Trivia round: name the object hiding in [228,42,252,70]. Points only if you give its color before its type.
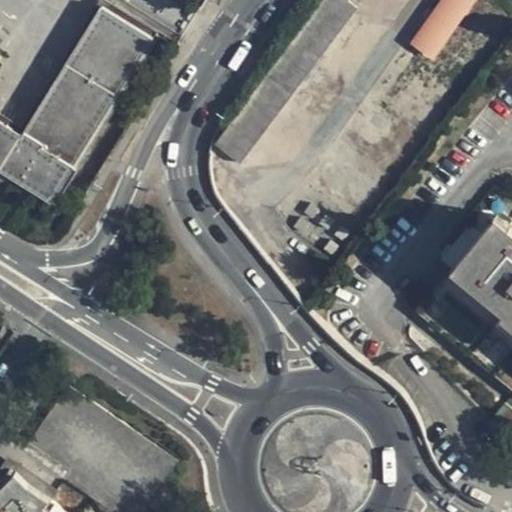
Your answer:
white vehicle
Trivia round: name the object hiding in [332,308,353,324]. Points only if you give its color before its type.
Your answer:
white car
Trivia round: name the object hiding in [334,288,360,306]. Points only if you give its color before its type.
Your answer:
white vehicle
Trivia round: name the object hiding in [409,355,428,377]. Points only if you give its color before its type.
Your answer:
white car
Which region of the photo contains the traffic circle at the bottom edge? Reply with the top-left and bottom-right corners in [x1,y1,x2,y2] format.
[258,408,376,512]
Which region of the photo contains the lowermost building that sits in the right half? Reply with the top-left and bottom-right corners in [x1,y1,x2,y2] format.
[474,320,512,376]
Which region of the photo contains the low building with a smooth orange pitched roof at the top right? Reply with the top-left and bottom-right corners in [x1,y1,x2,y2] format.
[410,0,476,60]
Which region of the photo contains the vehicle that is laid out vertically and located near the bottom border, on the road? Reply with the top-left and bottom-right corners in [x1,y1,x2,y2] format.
[382,446,398,487]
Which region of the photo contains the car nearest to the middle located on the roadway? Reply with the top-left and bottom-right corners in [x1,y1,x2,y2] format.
[246,268,266,288]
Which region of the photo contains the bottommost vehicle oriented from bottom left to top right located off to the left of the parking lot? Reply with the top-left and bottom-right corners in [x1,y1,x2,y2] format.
[253,416,271,434]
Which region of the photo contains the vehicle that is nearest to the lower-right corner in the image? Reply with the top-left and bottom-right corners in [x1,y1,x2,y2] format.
[461,482,490,504]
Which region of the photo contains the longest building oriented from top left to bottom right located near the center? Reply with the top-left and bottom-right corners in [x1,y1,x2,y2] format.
[294,215,324,240]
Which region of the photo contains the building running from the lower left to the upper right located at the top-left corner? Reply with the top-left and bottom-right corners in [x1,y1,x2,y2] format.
[21,4,156,168]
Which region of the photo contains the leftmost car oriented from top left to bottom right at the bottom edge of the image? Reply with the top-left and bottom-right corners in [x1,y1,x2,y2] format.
[414,472,435,492]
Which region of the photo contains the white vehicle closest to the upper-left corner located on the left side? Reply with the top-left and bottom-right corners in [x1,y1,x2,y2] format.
[178,64,198,86]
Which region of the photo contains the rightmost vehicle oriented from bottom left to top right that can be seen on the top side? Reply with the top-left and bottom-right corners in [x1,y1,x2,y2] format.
[257,4,275,24]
